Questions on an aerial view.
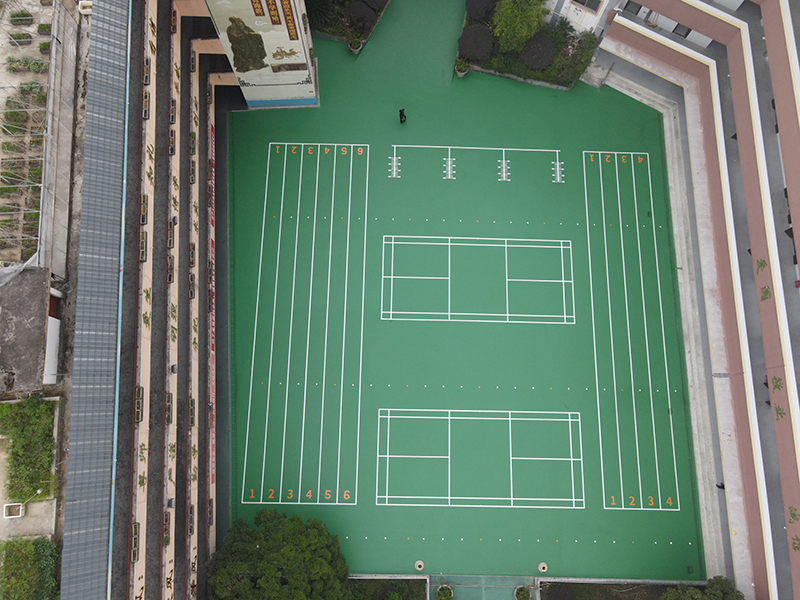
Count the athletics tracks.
2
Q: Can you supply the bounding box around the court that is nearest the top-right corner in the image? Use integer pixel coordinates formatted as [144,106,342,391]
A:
[381,236,575,323]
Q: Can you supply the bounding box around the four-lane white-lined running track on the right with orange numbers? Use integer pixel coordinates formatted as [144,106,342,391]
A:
[583,152,680,510]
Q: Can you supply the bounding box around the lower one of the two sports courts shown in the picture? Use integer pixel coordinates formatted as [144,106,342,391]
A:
[377,409,584,509]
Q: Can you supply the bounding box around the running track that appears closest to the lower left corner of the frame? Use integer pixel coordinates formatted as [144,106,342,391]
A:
[241,144,369,505]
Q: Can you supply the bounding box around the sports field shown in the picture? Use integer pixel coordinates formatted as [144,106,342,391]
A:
[227,0,707,580]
